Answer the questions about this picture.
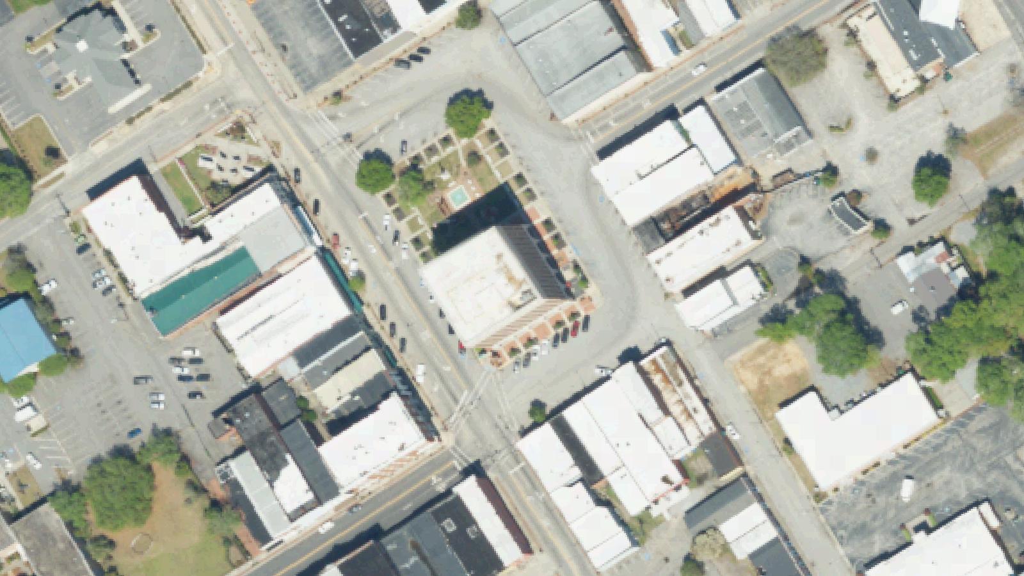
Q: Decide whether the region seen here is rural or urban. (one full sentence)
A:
This place is urban.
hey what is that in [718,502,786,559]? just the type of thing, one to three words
building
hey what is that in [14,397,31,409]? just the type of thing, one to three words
vehicle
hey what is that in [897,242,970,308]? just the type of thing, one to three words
house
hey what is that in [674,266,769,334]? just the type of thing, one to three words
building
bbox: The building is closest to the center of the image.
[421,214,580,359]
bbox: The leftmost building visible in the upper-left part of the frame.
[53,9,137,105]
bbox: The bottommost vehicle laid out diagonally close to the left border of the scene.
[25,451,41,469]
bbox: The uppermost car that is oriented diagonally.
[691,63,707,75]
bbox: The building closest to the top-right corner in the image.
[964,0,1015,53]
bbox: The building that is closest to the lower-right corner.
[864,501,1024,576]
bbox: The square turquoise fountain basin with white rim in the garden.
[450,186,470,207]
